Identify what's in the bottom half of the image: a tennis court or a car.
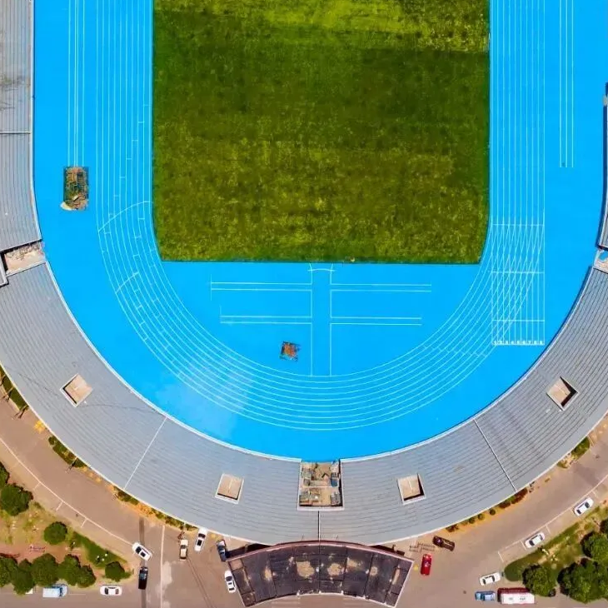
car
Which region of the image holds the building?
bottom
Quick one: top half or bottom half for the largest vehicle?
bottom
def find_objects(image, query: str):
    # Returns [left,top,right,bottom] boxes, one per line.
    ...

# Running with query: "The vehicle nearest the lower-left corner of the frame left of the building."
[41,585,69,602]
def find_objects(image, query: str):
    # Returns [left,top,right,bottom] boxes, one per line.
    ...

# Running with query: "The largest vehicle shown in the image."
[498,587,537,607]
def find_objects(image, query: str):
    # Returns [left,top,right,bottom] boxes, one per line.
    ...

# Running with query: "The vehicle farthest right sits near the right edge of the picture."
[572,496,594,515]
